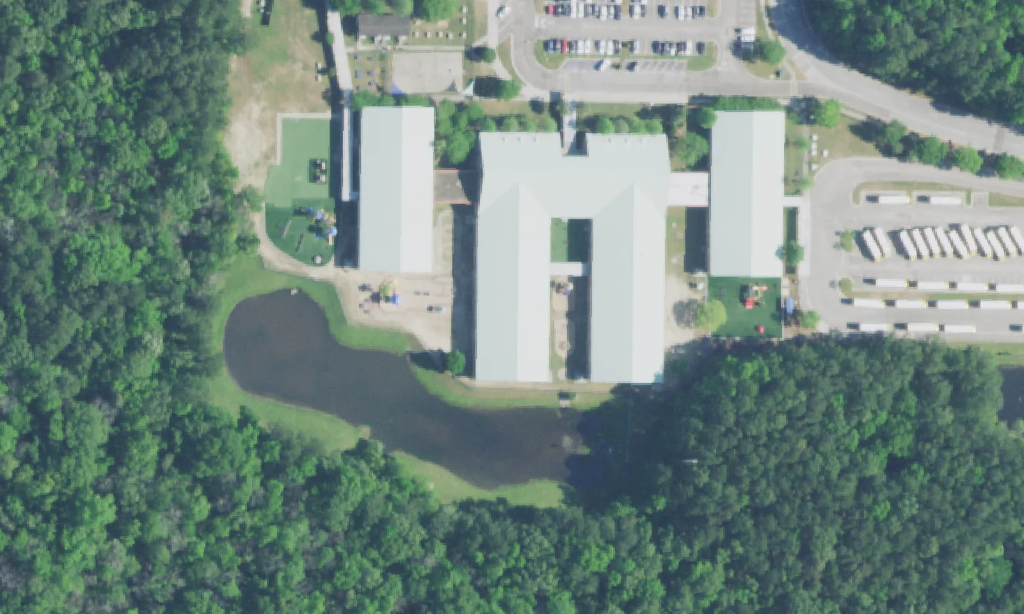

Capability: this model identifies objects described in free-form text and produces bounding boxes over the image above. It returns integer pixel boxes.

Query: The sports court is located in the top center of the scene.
[392,52,463,93]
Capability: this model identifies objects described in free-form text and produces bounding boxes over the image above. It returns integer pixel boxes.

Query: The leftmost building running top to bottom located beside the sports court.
[357,107,435,272]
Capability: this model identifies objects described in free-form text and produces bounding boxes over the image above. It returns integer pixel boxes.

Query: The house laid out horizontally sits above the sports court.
[357,15,410,40]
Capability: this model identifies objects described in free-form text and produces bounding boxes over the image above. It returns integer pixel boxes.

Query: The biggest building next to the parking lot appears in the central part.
[475,132,670,383]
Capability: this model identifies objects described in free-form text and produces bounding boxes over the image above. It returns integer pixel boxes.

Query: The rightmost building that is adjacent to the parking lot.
[707,111,785,276]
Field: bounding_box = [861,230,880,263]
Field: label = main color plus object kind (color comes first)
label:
white vehicle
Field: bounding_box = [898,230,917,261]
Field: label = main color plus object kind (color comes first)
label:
white vehicle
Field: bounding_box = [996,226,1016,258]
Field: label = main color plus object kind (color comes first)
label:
white bus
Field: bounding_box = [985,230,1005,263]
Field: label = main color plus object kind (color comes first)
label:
white bus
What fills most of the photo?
trees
